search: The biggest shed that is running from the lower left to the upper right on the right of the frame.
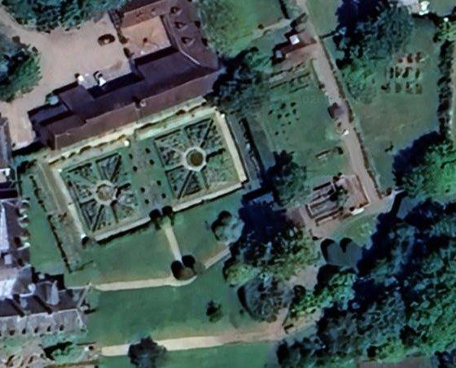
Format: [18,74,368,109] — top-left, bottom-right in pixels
[273,29,315,60]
